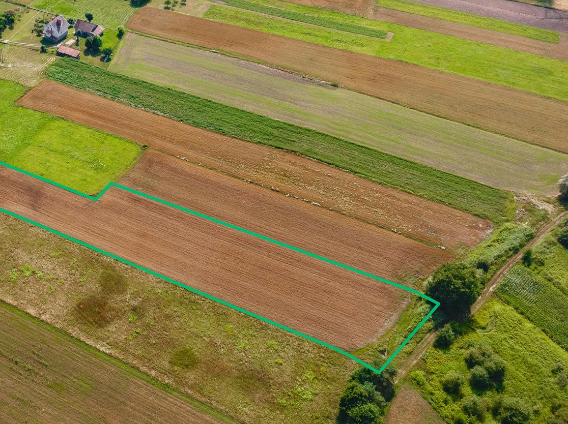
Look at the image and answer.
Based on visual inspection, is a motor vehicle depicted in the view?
No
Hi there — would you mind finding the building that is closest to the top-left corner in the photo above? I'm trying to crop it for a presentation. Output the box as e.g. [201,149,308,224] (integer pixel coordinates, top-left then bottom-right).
[42,15,71,42]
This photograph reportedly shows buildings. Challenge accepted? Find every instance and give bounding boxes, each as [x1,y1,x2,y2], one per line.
[42,15,71,42]
[55,45,81,59]
[73,19,105,37]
